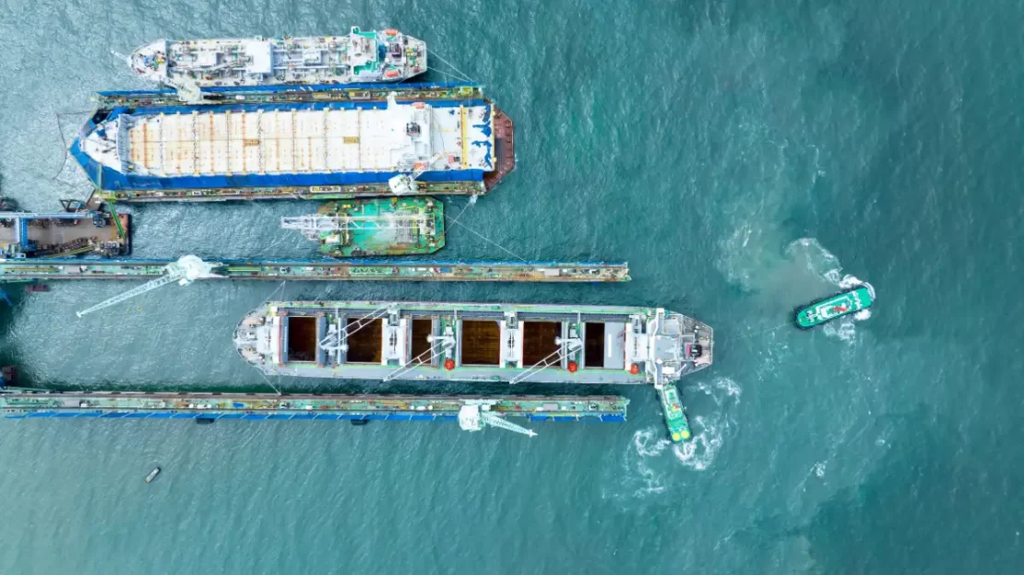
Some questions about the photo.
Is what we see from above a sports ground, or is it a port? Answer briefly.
port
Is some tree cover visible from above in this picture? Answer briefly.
No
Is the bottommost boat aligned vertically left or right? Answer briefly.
right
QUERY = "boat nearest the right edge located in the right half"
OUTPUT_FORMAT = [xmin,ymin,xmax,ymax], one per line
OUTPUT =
[798,286,876,327]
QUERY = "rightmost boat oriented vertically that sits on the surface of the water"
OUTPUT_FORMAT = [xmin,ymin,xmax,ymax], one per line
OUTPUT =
[660,381,692,445]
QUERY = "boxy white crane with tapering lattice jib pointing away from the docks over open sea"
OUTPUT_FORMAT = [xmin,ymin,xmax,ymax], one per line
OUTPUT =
[459,394,536,439]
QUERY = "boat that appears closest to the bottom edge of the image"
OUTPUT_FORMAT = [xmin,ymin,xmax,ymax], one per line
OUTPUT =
[142,467,160,485]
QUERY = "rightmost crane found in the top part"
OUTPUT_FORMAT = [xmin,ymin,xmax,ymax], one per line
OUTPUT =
[390,150,444,199]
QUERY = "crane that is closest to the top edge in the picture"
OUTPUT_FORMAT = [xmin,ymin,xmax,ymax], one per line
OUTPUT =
[156,69,226,108]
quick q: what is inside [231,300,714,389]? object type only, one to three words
ship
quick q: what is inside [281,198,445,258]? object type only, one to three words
ship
